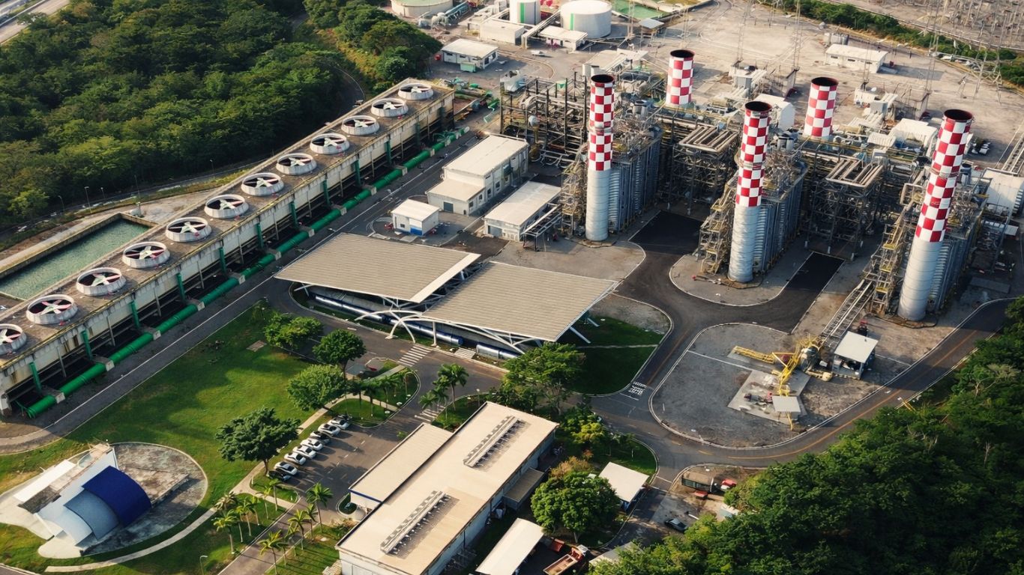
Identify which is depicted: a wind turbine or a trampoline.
wind turbine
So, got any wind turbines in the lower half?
No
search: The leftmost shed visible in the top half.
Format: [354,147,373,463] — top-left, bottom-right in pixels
[388,197,434,234]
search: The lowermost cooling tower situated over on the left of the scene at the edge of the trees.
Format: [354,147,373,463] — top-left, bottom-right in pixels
[0,83,463,423]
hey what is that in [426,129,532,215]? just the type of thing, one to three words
building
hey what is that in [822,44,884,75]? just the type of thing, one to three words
shed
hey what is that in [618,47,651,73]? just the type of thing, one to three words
house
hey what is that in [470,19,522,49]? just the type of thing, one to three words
building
